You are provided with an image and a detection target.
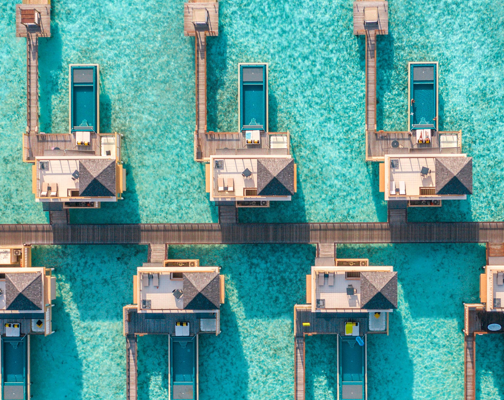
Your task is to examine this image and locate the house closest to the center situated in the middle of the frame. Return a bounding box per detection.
[193,130,298,211]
